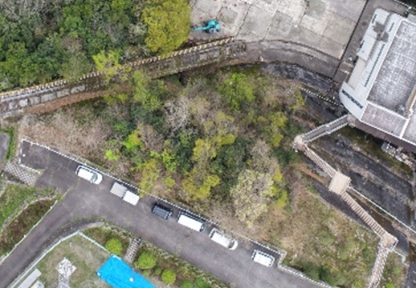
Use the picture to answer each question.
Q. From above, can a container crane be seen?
No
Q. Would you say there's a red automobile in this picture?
No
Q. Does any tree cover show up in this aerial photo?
Yes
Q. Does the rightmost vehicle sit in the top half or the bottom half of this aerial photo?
bottom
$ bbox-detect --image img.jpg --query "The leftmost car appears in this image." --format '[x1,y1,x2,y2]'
[74,165,104,187]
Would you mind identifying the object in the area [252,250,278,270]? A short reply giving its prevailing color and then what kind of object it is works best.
white vehicle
